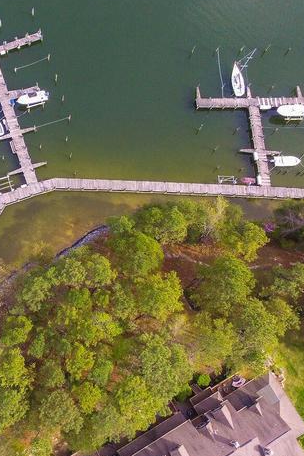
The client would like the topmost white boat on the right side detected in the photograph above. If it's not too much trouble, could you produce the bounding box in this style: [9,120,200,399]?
[230,44,259,98]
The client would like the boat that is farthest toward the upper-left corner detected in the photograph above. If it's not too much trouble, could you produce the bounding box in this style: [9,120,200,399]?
[16,90,51,104]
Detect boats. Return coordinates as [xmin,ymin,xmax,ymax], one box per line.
[16,90,51,104]
[230,44,259,98]
[269,157,300,167]
[239,178,254,184]
[274,107,304,119]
